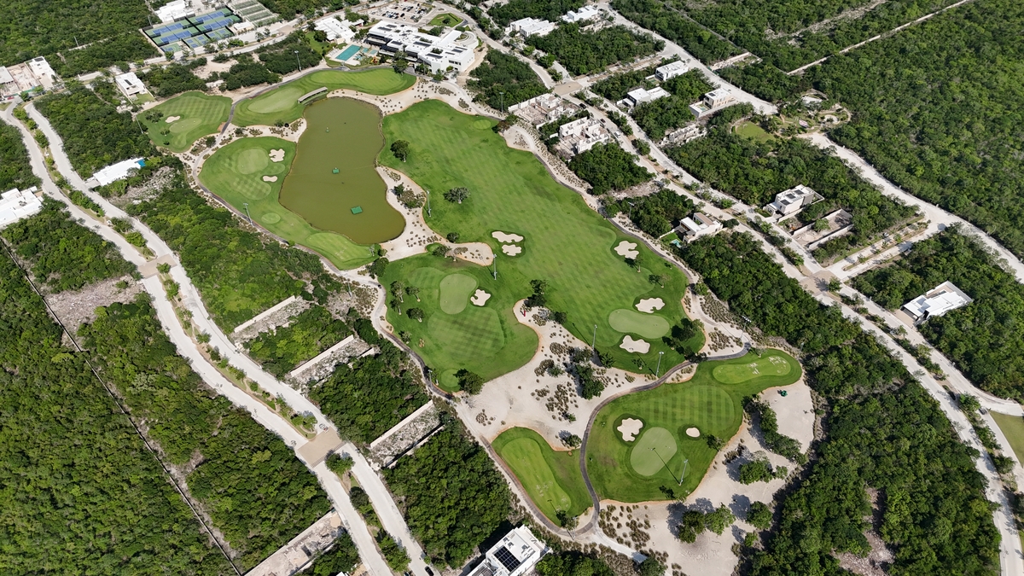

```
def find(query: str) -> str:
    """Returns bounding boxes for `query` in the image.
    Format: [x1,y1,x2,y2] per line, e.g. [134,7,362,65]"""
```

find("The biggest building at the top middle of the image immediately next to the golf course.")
[365,20,479,71]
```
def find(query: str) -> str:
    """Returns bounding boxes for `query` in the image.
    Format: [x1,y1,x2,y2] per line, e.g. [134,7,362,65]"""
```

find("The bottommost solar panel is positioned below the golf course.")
[494,545,519,571]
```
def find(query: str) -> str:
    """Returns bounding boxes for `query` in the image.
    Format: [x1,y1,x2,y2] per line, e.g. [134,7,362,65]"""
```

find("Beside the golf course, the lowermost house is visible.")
[468,524,548,576]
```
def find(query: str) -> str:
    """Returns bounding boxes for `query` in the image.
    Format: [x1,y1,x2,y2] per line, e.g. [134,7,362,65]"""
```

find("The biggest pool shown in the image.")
[335,44,362,60]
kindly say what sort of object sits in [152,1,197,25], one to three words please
building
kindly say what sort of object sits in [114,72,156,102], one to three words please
house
